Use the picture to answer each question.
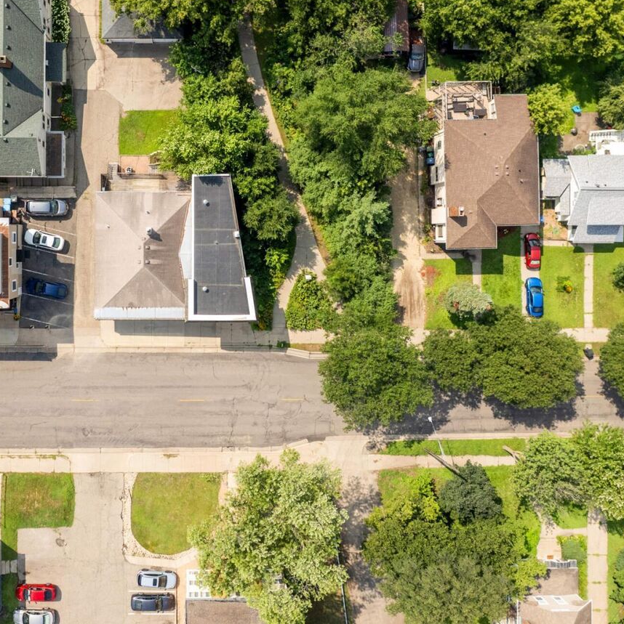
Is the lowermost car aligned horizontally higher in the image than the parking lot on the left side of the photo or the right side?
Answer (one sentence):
The lowermost car aligned horizontally higher in the image than the parking lot is on the left side of the image.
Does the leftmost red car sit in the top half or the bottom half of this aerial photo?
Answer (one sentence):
The bottom half of the photo is where the leftmost red car is.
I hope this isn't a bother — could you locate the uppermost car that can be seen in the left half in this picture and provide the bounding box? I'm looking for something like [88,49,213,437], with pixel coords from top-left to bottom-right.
[25,198,67,217]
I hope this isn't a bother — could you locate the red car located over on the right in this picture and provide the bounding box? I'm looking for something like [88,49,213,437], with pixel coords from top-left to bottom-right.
[523,231,543,269]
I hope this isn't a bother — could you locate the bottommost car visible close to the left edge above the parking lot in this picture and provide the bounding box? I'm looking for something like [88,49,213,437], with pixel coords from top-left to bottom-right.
[26,277,68,298]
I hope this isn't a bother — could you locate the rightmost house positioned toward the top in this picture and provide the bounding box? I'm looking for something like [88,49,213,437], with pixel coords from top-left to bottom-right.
[536,156,624,243]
